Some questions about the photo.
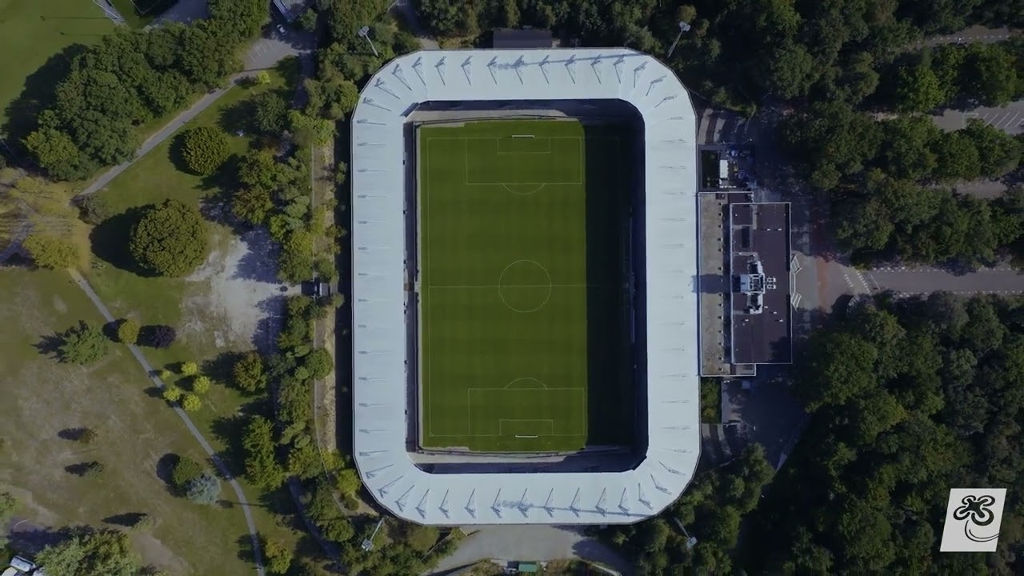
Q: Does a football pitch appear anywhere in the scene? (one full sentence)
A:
Yes, the image includes a football pitch.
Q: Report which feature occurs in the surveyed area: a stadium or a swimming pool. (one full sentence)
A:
Visible in the photo is a stadium.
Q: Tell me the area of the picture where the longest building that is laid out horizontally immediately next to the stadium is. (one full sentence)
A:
Look in the top portion of the view to spot the longest building that is laid out horizontally immediately next to the stadium.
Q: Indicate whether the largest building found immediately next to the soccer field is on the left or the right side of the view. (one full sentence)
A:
The largest building found immediately next to the soccer field sits on the right side.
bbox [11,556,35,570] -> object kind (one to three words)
vehicle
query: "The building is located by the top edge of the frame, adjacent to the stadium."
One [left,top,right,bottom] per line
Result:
[493,27,552,49]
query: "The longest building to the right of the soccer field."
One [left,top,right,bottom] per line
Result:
[698,191,801,376]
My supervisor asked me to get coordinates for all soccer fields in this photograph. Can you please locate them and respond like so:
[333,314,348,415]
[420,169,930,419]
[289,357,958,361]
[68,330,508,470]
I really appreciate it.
[421,120,630,453]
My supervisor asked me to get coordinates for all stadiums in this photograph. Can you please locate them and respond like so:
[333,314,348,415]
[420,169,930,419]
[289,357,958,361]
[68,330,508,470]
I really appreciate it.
[351,48,701,525]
